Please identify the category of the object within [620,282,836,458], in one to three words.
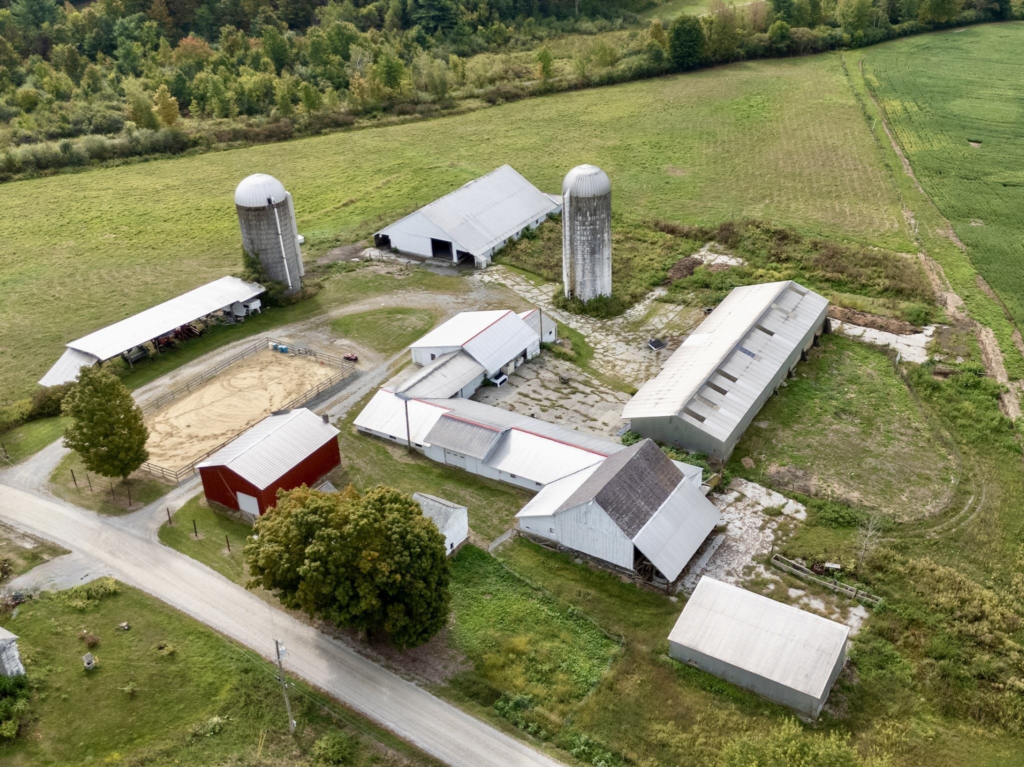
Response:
barn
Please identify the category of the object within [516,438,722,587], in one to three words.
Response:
barn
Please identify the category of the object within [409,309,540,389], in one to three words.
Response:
building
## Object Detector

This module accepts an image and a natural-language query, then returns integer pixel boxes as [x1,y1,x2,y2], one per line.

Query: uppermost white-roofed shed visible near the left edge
[39,274,271,389]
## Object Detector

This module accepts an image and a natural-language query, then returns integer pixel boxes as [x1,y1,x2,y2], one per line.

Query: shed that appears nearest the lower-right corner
[666,575,852,715]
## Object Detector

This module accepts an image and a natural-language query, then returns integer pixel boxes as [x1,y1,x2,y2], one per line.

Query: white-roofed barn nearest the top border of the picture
[373,163,564,267]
